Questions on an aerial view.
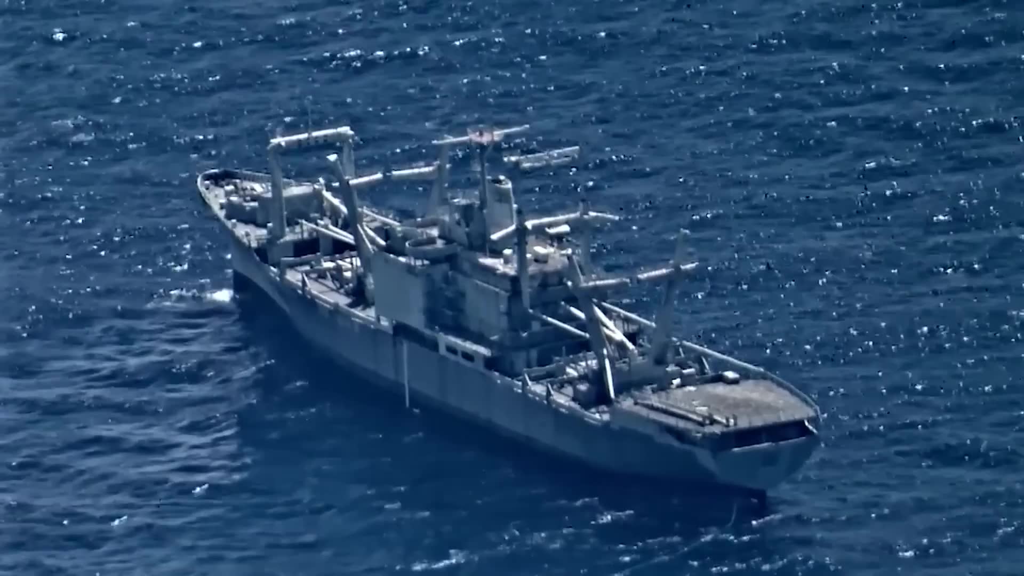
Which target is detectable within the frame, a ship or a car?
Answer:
ship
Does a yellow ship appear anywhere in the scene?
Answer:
No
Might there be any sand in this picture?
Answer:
No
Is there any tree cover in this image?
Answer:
No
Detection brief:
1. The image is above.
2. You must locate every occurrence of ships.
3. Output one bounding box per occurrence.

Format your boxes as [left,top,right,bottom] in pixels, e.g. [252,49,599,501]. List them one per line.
[196,98,834,489]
